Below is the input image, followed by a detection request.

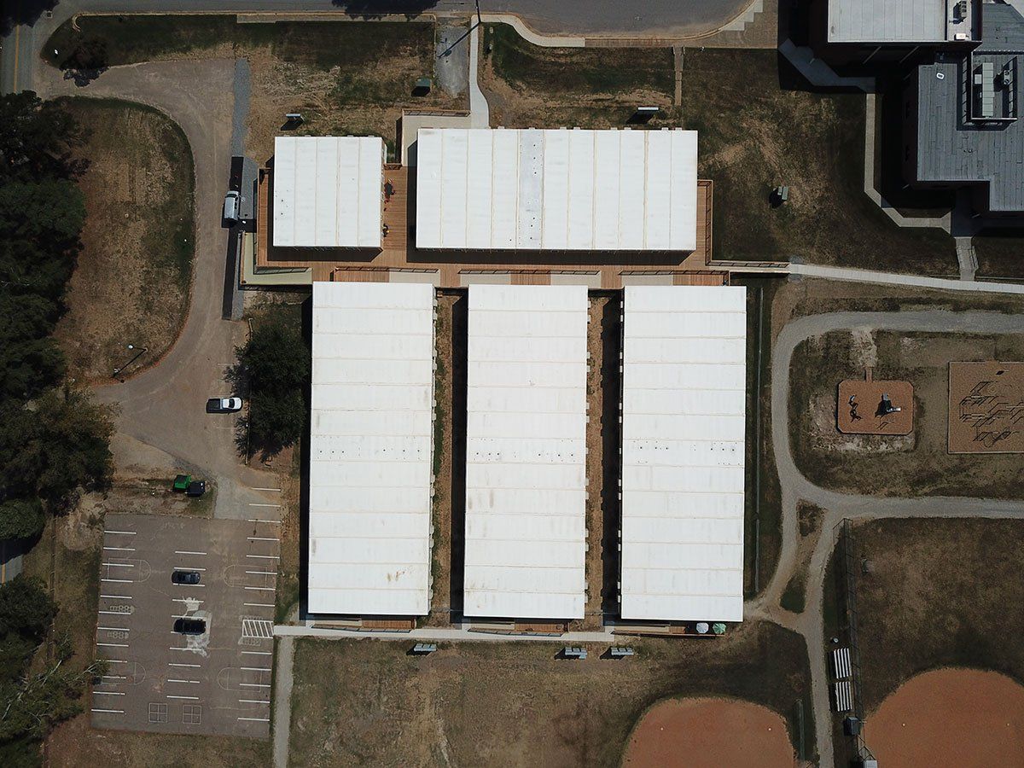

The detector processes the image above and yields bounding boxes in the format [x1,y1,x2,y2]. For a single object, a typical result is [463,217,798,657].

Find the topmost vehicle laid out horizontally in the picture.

[205,396,243,412]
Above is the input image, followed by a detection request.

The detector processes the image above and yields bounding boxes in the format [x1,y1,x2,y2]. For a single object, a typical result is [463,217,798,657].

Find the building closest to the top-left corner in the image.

[273,133,385,252]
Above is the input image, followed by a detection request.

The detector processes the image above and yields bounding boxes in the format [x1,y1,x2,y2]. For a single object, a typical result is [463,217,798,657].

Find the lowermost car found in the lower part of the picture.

[174,617,206,634]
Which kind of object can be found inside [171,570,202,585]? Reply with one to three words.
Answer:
car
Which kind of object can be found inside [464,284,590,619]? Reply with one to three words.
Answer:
building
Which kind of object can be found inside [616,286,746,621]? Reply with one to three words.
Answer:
building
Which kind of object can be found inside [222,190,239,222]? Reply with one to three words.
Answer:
vehicle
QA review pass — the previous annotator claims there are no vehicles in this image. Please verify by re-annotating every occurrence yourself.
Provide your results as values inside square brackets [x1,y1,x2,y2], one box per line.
[222,190,239,222]
[174,617,206,634]
[205,396,243,412]
[171,570,202,585]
